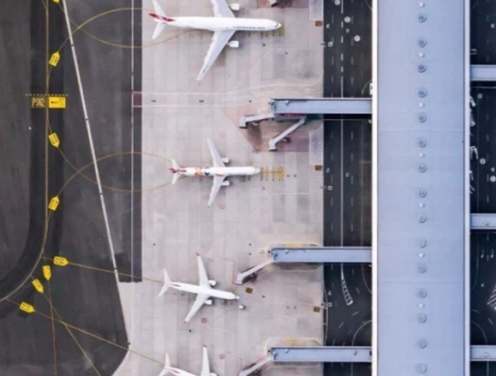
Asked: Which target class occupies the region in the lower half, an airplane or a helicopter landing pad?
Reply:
airplane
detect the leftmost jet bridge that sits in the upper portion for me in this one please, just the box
[240,115,276,131]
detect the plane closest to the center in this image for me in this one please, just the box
[170,135,260,207]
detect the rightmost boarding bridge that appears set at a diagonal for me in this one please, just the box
[269,119,309,152]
